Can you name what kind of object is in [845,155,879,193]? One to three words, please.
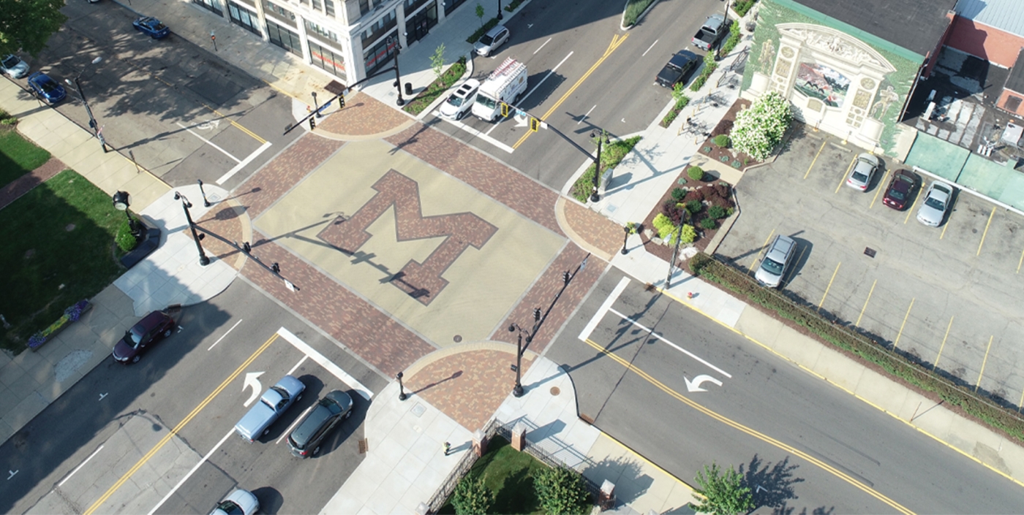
car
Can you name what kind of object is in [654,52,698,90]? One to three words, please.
truck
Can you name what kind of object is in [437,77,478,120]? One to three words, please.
car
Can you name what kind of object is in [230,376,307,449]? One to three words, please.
truck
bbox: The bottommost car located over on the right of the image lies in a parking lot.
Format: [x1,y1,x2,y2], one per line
[755,233,797,287]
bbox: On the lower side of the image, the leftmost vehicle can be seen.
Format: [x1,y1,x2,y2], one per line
[112,309,180,368]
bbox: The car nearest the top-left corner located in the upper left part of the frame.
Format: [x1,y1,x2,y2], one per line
[0,53,32,82]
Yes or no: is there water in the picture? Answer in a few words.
No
